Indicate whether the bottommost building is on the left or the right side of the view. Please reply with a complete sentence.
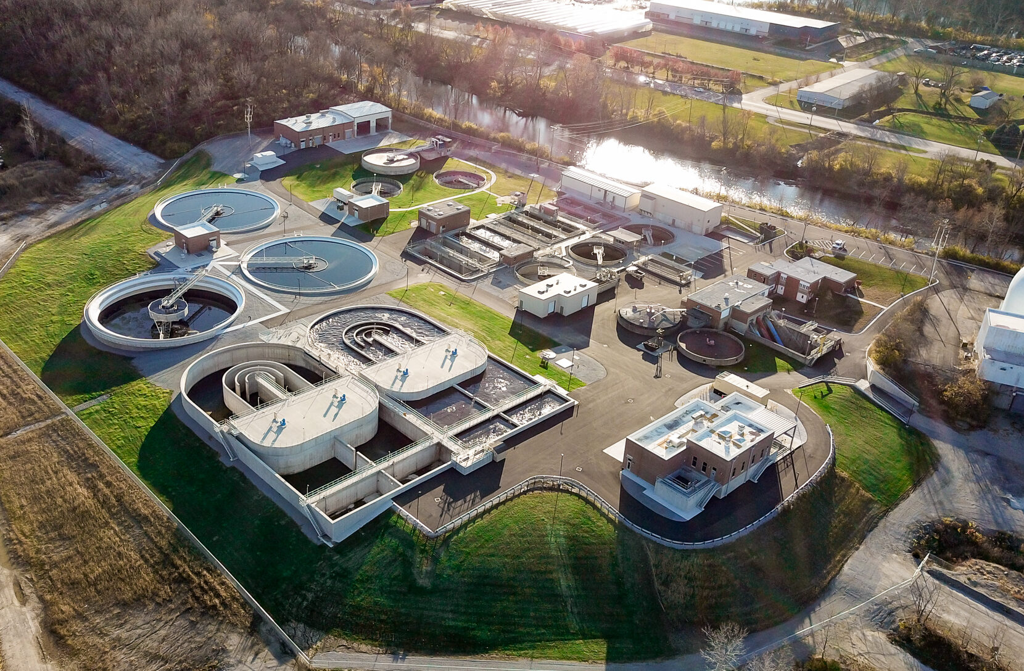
You can find the bottommost building on the right side of the picture.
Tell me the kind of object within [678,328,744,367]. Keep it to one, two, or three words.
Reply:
storage tank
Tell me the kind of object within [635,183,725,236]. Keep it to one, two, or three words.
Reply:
building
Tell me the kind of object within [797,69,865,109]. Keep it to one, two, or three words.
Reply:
shed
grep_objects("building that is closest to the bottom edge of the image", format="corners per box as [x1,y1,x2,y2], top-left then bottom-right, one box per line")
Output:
[622,393,797,509]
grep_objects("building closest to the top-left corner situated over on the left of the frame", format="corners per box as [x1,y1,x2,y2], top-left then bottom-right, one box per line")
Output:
[173,220,221,253]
